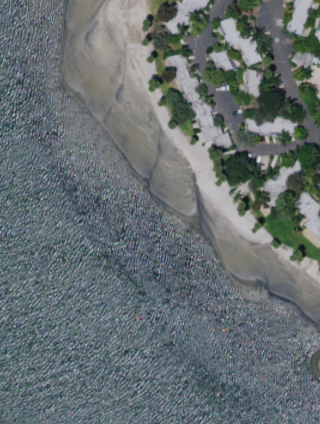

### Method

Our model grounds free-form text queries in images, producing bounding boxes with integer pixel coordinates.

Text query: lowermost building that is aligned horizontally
[243,116,298,138]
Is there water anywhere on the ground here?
Yes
